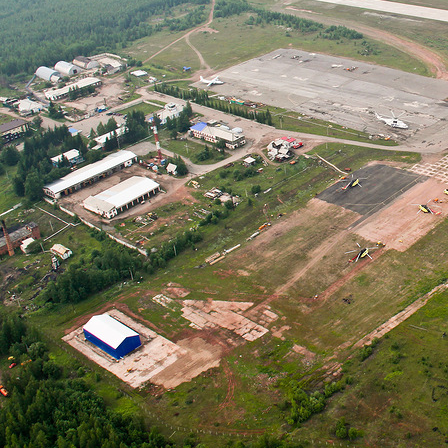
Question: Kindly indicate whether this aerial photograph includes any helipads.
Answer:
Yes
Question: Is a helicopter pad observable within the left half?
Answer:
No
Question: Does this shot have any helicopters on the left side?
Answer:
No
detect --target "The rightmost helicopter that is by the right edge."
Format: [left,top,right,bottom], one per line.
[415,199,446,214]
